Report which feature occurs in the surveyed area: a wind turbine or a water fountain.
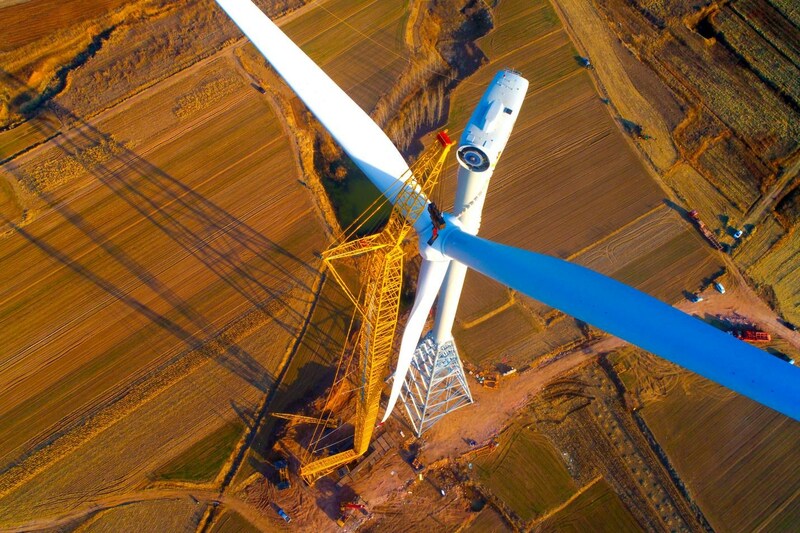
wind turbine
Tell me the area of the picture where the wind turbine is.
center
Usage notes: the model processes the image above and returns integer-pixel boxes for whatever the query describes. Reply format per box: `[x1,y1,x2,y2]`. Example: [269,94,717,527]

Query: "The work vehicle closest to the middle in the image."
[481,373,499,389]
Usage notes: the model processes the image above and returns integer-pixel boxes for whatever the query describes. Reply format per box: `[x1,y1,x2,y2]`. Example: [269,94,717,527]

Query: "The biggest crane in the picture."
[300,108,458,481]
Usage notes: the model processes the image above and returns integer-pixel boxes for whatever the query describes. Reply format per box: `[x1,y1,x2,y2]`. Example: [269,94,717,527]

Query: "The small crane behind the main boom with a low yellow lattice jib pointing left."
[271,413,360,433]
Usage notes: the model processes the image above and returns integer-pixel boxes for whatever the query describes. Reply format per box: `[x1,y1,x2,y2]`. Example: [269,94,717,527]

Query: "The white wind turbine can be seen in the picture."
[380,50,529,442]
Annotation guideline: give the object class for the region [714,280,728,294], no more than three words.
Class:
vehicle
